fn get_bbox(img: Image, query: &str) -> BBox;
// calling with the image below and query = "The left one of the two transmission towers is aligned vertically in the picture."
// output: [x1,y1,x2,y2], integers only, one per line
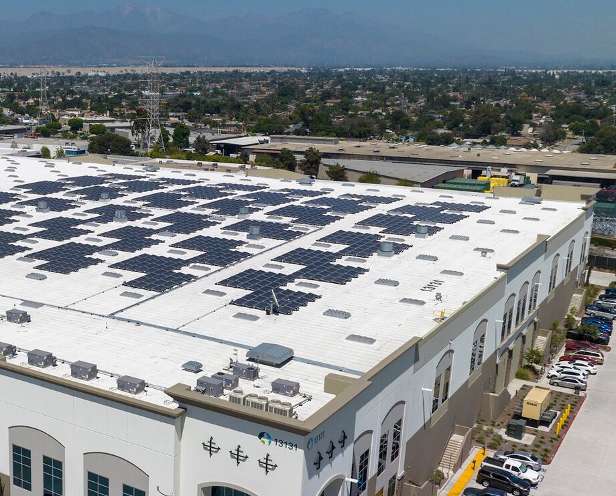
[33,57,54,117]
